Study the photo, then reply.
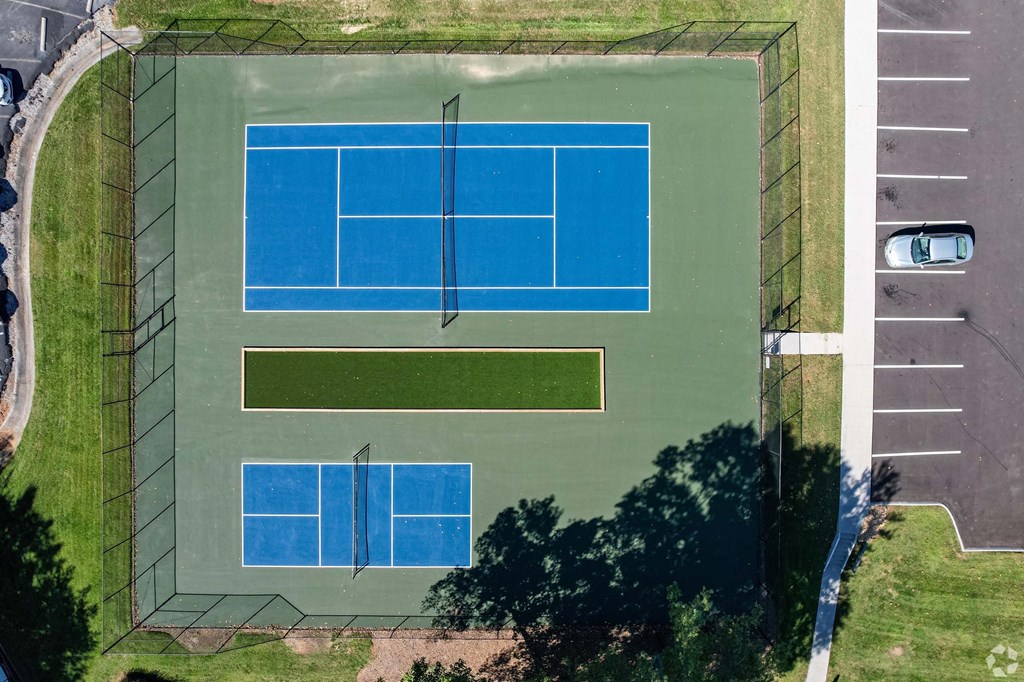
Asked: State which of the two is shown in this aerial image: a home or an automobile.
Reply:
automobile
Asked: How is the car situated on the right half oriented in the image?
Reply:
from left to right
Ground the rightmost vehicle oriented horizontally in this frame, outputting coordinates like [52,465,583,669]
[884,230,974,271]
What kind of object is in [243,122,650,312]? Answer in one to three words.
tennis court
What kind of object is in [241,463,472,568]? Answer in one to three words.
sports court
